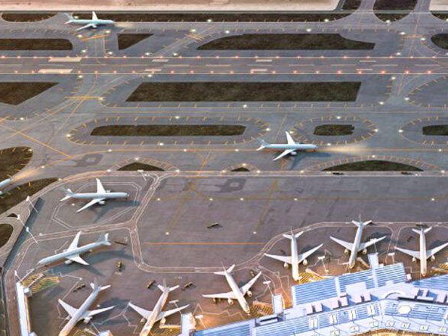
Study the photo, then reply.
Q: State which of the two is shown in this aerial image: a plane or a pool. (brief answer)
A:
plane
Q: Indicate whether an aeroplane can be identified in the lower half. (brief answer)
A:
Yes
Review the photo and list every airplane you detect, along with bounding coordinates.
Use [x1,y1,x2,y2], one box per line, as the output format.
[56,279,118,336]
[255,131,318,160]
[389,224,448,276]
[324,217,391,267]
[197,261,267,312]
[126,279,191,336]
[61,11,115,30]
[258,230,329,280]
[39,230,112,266]
[58,179,129,212]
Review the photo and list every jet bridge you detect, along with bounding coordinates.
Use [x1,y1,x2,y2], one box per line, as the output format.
[304,266,338,279]
[433,260,448,273]
[21,266,38,287]
[26,270,47,297]
[151,321,180,334]
[249,299,273,315]
[356,254,370,270]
